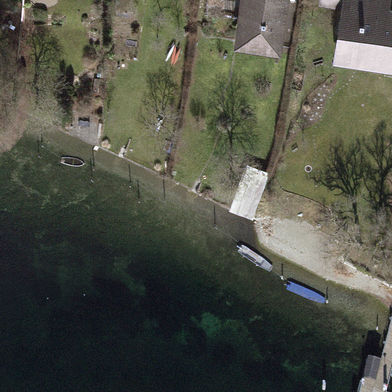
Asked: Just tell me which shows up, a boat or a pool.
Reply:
boat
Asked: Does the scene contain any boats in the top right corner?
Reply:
No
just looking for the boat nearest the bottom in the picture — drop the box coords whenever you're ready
[284,280,327,304]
